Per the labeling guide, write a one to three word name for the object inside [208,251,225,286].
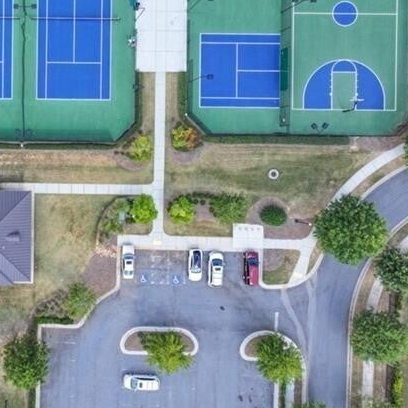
car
